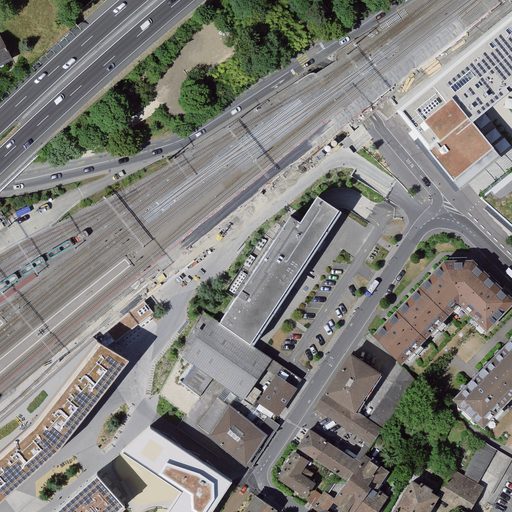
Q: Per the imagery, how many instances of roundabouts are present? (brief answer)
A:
0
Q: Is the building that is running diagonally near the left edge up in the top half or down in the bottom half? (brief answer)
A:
bottom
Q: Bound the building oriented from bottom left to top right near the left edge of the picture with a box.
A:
[0,339,132,498]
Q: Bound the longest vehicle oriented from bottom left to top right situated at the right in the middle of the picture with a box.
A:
[366,278,382,296]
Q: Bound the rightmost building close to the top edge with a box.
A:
[396,11,512,188]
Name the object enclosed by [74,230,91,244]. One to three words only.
rail car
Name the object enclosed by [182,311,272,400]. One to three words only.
building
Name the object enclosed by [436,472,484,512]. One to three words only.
house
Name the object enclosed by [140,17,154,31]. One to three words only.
vehicle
